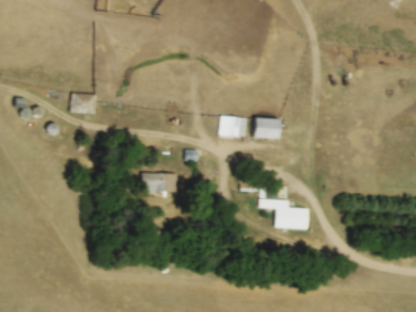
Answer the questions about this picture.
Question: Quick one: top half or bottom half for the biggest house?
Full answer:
The biggest house sits in the bottom half of the picture.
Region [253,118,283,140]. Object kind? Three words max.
barn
